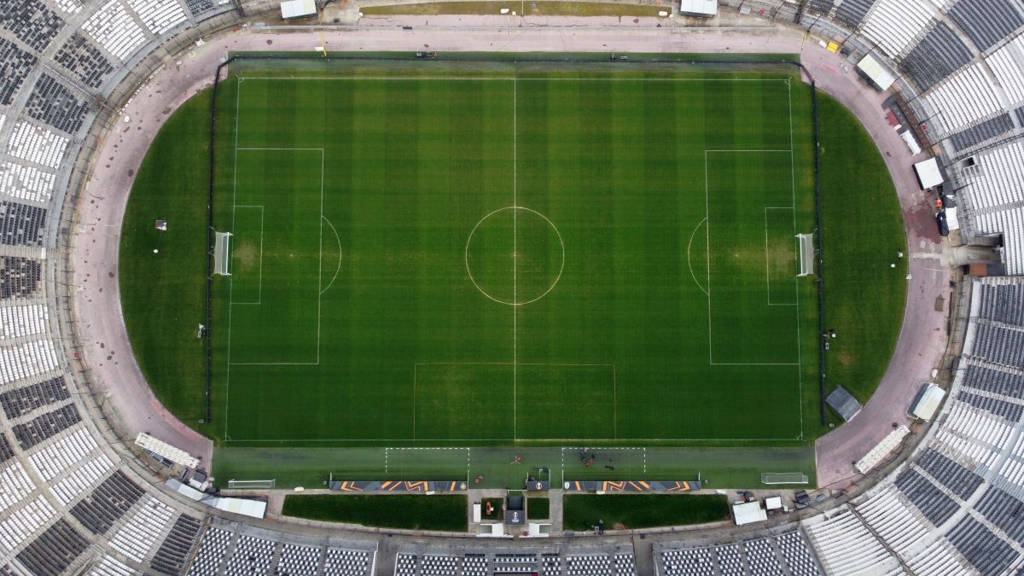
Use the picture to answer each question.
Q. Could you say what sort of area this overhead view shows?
sports ground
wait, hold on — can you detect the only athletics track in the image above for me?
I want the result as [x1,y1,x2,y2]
[74,16,952,490]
